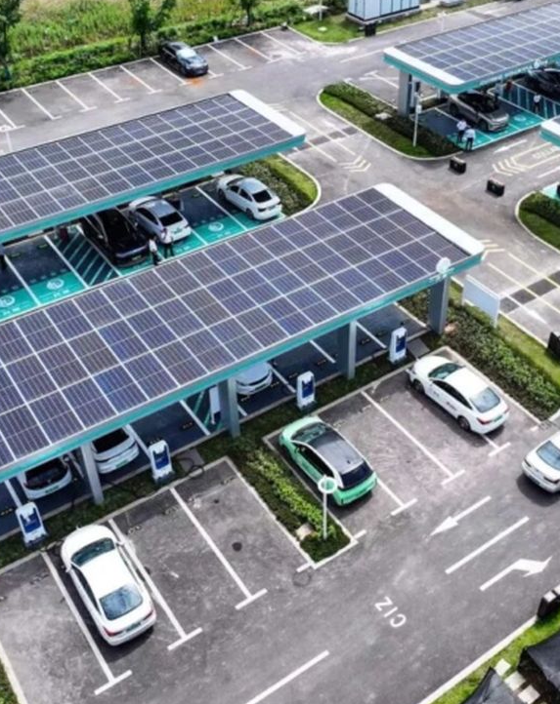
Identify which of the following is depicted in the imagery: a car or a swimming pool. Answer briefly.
car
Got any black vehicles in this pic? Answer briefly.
Yes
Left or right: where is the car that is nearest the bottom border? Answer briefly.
left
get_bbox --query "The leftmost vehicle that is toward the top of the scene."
[80,208,148,268]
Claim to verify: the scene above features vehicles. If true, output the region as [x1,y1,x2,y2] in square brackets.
[87,429,139,474]
[158,41,208,76]
[132,196,194,245]
[523,432,560,497]
[80,208,148,268]
[408,353,511,435]
[18,459,71,499]
[234,365,273,396]
[518,69,560,105]
[214,173,281,222]
[58,522,156,649]
[284,419,378,509]
[443,89,507,130]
